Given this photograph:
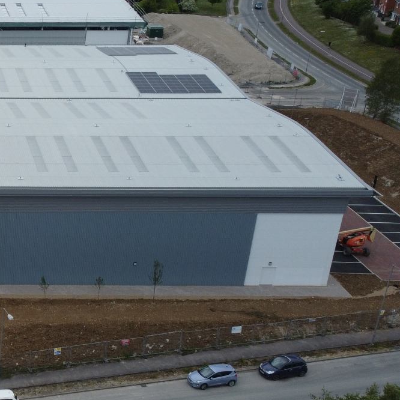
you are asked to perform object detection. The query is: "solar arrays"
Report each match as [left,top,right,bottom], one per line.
[100,47,175,54]
[121,72,221,93]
